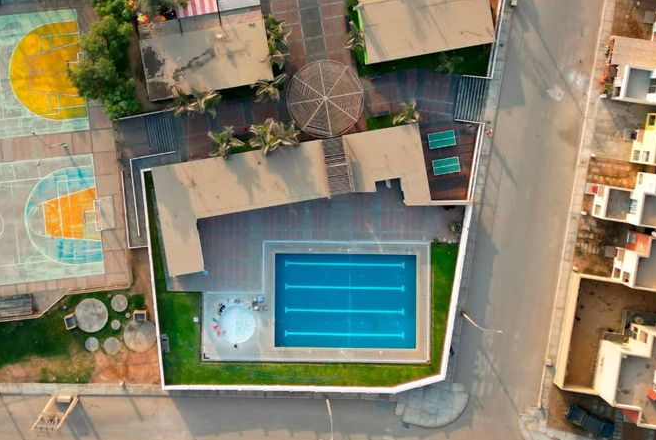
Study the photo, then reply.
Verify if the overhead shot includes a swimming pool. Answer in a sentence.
Yes, there's a swimming pool down there.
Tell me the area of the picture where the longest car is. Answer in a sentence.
The longest car appears toward the bottom right of the photo.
